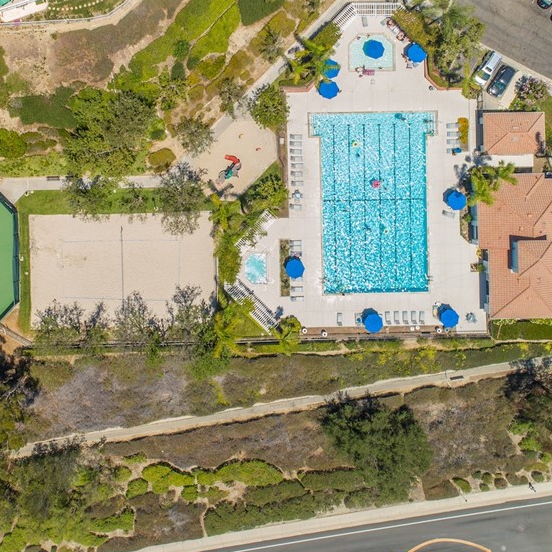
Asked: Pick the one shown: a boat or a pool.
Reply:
pool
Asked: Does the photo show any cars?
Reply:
Yes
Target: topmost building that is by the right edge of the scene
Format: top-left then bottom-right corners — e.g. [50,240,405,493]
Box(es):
[477,111,545,156]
